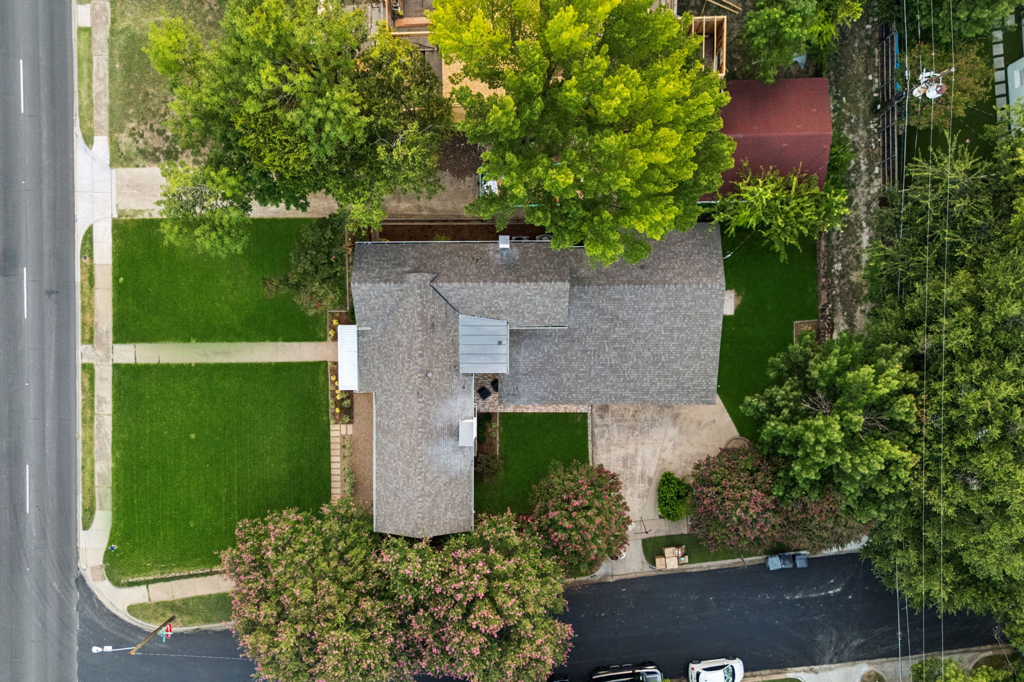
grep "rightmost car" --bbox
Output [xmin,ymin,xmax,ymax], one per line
[688,657,745,682]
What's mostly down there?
trees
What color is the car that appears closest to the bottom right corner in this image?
white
